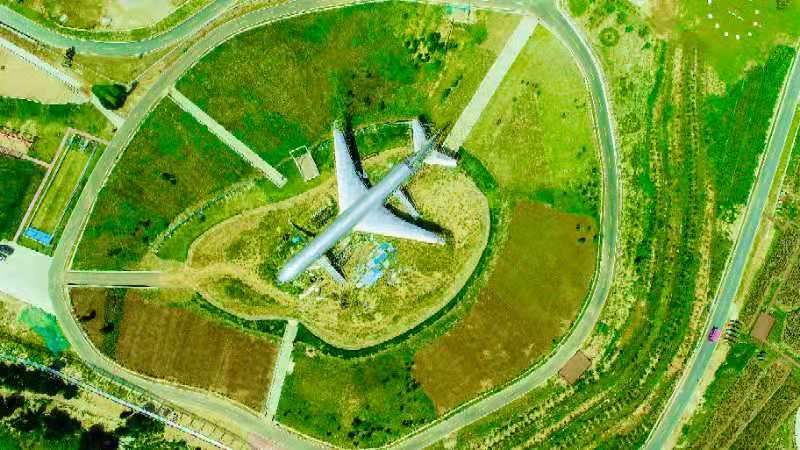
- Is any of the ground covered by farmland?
Yes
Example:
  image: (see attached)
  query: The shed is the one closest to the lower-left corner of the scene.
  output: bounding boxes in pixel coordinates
[20,227,52,246]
